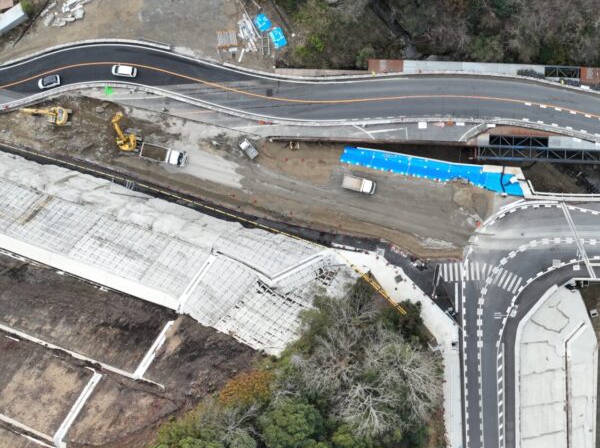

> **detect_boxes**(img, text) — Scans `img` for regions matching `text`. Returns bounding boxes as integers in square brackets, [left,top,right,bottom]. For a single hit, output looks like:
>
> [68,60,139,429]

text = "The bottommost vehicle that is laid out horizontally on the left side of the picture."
[131,140,187,168]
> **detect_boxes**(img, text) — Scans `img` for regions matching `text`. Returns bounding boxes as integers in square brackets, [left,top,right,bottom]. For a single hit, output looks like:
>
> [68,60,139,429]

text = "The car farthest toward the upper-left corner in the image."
[35,74,59,88]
